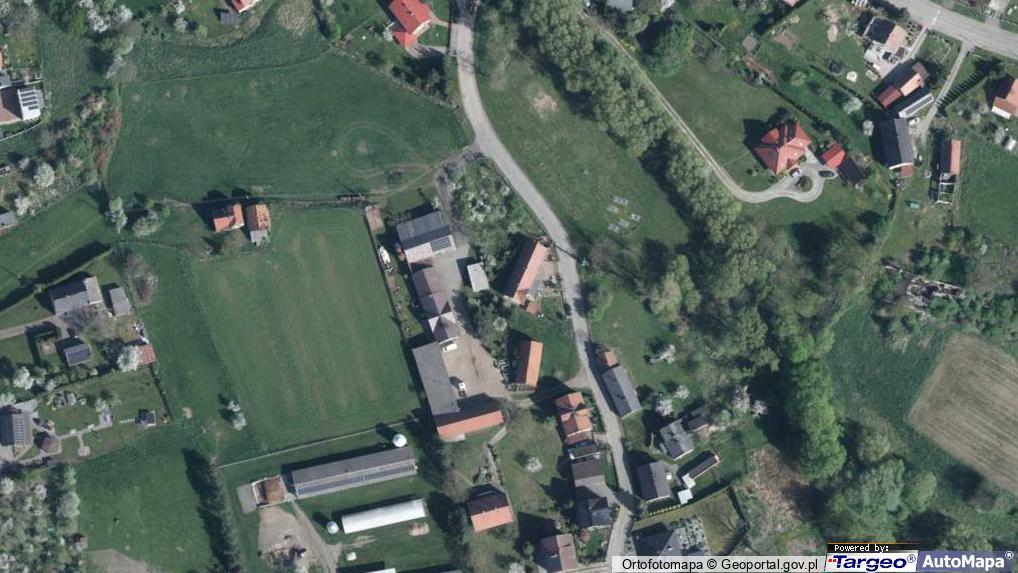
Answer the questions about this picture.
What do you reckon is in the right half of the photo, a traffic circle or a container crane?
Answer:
traffic circle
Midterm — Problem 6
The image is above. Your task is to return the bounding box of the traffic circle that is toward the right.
[738,150,838,203]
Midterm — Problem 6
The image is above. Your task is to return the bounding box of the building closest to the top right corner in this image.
[989,74,1018,118]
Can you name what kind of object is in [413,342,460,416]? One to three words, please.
barn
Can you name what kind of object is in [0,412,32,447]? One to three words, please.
house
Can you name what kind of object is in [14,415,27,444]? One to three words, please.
solar panel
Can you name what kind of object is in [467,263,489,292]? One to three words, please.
shed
